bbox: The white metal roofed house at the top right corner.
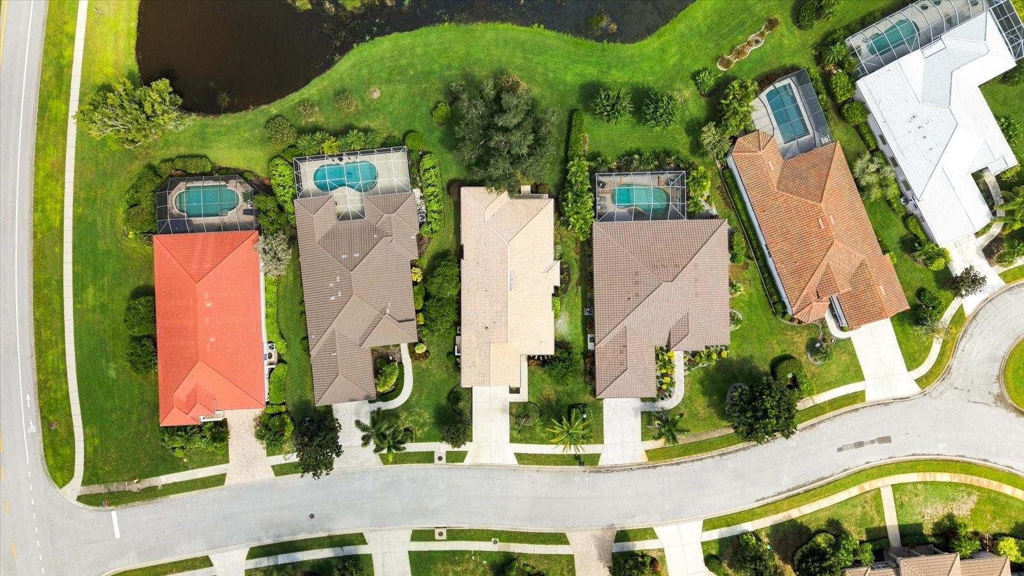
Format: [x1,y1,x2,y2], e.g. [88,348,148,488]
[850,9,1018,247]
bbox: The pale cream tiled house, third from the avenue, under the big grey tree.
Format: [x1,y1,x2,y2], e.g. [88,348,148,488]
[460,186,560,388]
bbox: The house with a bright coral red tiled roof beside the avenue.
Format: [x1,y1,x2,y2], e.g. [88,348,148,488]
[153,229,270,427]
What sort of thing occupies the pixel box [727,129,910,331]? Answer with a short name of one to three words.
house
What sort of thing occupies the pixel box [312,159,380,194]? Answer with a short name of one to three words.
swimming pool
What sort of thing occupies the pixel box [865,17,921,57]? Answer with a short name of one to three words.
swimming pool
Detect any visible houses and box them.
[850,9,1018,247]
[153,229,270,427]
[838,544,1009,576]
[727,129,910,331]
[460,186,560,388]
[592,218,731,399]
[294,191,420,406]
